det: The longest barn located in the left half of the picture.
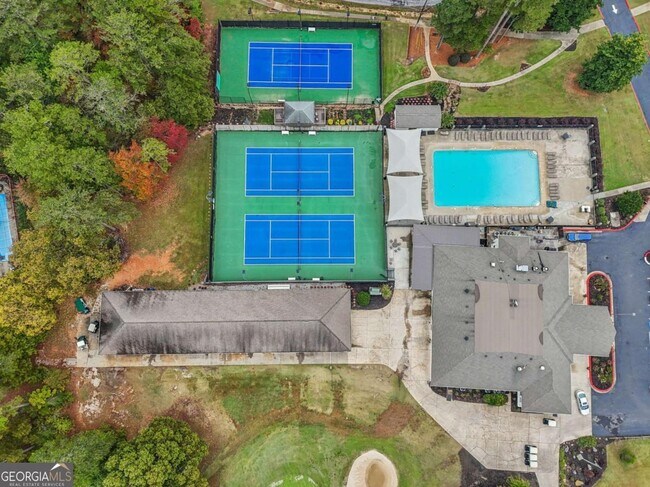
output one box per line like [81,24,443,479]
[98,288,352,354]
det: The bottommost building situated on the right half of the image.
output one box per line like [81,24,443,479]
[409,225,615,414]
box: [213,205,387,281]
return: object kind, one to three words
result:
tennis court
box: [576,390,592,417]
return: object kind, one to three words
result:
car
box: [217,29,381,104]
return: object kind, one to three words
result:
tennis court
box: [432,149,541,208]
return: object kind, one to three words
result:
swimming pool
